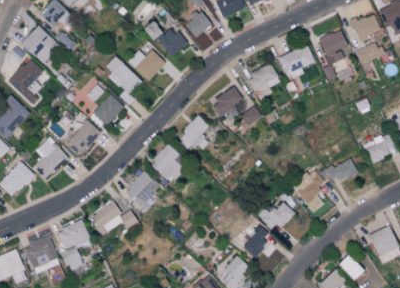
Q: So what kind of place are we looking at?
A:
residential area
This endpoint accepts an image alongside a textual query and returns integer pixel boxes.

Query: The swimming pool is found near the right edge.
[384,62,398,77]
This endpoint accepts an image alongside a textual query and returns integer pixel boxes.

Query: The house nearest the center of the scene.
[180,118,208,149]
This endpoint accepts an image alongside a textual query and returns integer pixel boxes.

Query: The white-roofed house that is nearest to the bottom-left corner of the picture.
[0,249,28,285]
